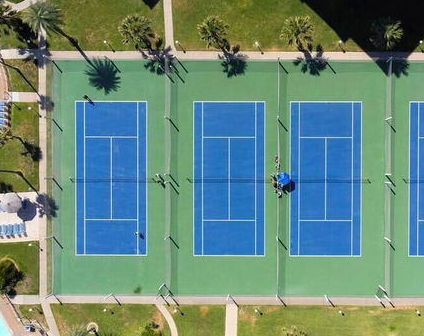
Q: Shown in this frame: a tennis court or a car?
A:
tennis court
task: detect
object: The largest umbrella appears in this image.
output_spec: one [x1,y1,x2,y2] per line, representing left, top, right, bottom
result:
[1,192,22,212]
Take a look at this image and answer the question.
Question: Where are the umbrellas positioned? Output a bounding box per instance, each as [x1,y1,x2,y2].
[1,192,22,212]
[278,172,289,185]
